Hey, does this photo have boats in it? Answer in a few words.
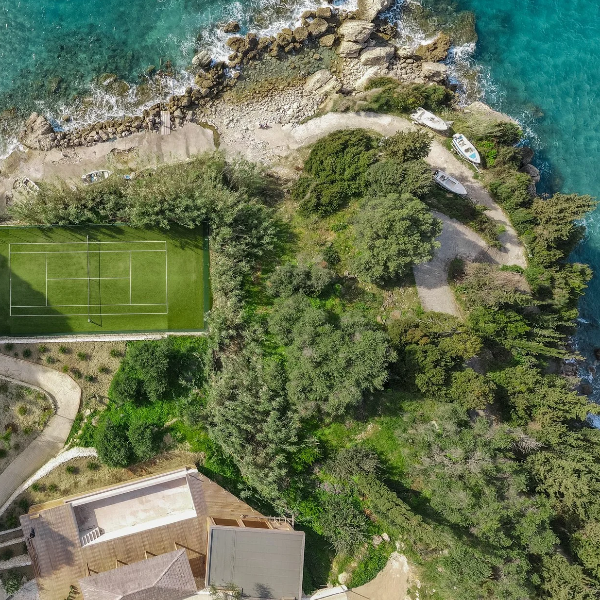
Yes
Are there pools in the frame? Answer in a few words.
Yes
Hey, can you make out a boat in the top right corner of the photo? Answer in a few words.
Yes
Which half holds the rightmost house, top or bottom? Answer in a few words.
bottom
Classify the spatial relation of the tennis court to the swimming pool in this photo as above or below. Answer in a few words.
above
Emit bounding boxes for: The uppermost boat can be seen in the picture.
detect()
[410,107,453,130]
